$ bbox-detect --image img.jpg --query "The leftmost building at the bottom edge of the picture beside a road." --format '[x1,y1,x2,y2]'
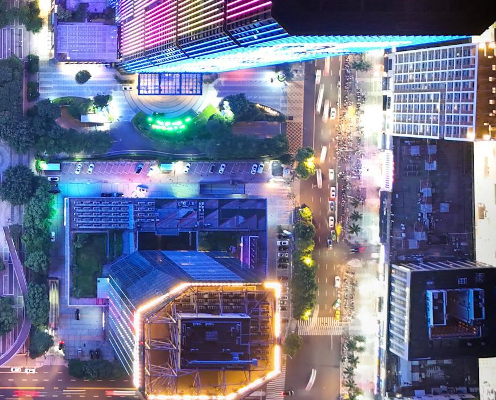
[106,244,284,400]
